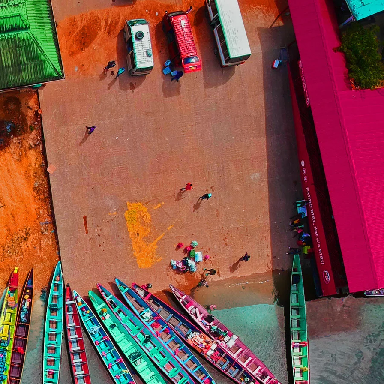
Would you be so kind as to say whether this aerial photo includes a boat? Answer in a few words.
Yes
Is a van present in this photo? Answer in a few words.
Yes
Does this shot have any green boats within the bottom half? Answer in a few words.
Yes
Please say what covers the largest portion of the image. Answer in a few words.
paved ground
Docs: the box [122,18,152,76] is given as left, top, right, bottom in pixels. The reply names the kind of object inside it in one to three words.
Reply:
van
